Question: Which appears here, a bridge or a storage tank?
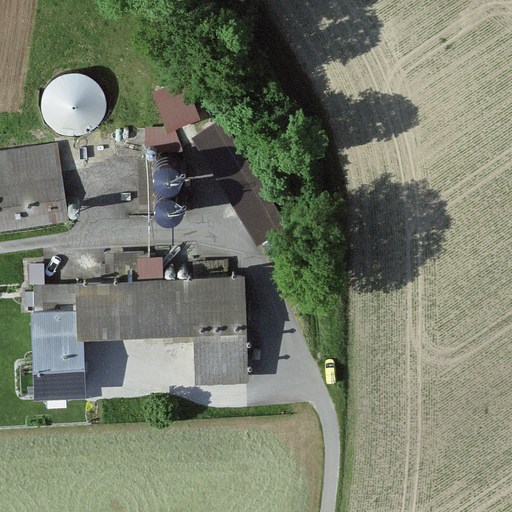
storage tank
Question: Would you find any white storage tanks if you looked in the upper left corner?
Yes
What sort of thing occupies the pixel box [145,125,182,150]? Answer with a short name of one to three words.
shed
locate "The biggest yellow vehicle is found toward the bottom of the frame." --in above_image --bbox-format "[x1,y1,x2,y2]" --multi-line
[324,358,336,384]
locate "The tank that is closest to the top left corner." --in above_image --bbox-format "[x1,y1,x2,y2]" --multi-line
[39,68,108,138]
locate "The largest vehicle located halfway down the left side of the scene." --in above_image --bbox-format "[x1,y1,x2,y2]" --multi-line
[45,254,62,276]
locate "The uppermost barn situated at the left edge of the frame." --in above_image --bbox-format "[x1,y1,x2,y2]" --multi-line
[0,142,68,232]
